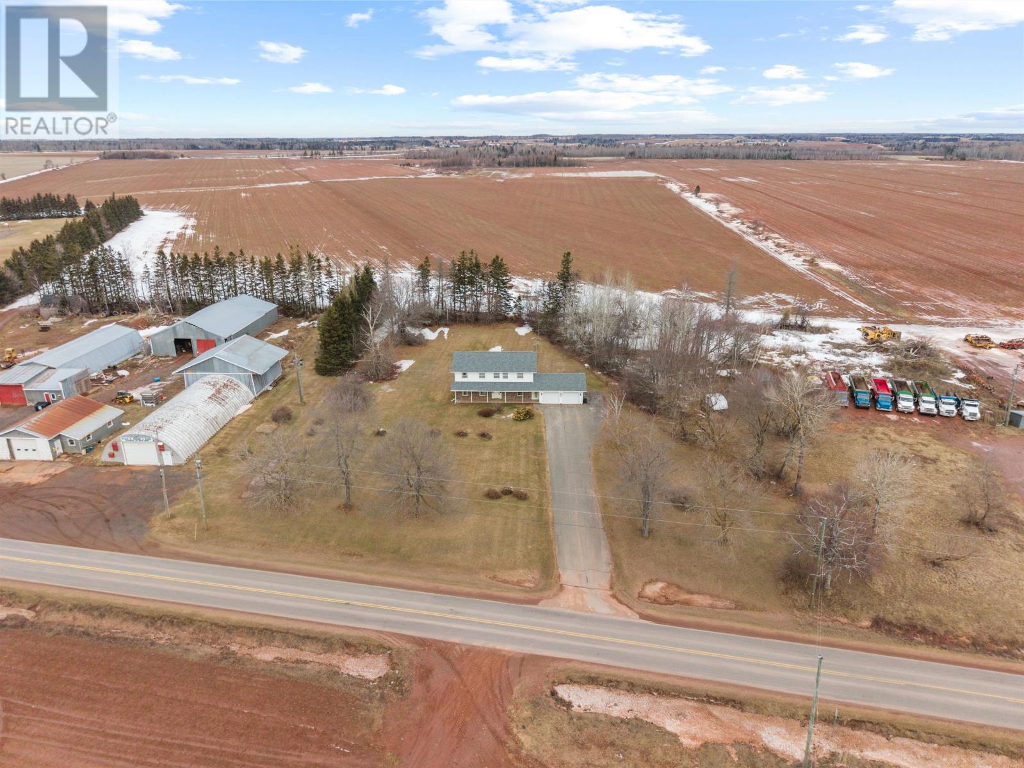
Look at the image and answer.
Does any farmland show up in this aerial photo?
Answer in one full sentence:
Yes, farmland can be seen from above here.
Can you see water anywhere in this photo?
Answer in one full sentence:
No, there's no water in this view.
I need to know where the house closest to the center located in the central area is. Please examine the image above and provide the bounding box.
[450,347,586,406]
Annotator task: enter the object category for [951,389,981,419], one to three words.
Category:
truck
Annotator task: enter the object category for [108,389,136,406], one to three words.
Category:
work vehicle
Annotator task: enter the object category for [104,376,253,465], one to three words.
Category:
shed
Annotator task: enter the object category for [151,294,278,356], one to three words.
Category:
barn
